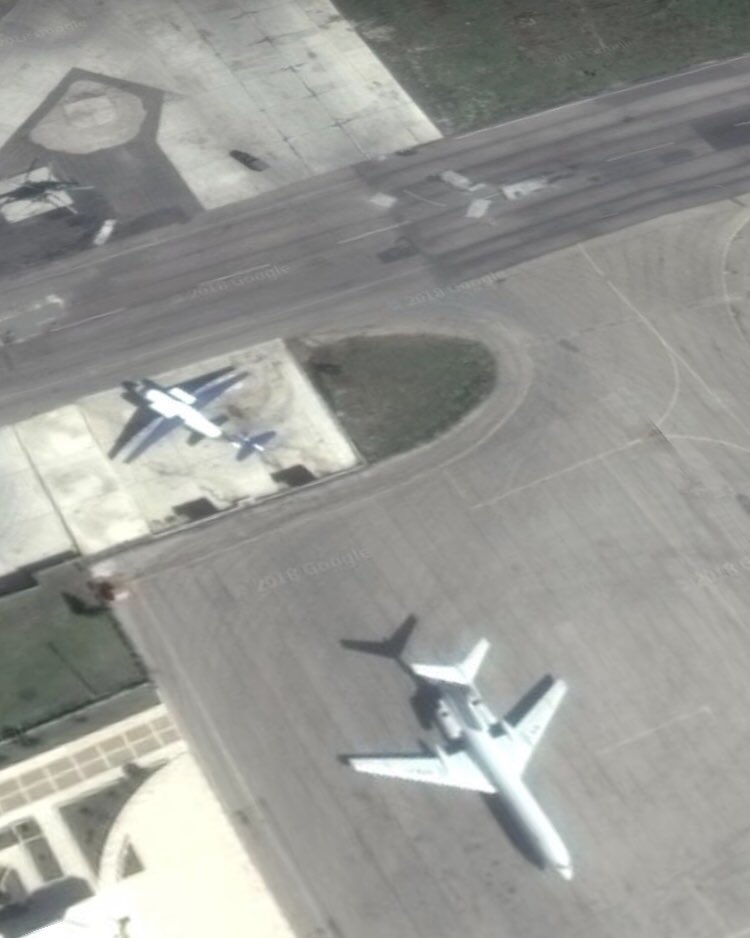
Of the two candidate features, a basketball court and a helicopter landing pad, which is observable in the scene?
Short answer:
helicopter landing pad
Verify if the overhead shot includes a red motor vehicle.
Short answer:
No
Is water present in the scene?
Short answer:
No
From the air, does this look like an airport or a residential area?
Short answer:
airport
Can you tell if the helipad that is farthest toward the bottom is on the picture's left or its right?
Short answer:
left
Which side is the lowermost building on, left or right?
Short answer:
left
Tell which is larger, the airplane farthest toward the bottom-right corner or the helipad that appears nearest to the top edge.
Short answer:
the airplane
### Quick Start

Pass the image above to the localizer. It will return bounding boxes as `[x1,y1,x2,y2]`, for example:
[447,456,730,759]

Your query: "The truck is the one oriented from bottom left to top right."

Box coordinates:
[90,215,115,243]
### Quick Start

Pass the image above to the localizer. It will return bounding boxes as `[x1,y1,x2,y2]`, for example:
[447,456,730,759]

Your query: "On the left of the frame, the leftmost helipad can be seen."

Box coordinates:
[0,167,73,222]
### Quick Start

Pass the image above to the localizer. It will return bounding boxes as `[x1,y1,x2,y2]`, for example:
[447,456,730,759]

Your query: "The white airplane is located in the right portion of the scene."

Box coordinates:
[355,640,575,878]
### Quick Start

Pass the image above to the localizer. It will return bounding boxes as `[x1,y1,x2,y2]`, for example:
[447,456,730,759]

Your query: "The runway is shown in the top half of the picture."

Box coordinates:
[0,54,750,430]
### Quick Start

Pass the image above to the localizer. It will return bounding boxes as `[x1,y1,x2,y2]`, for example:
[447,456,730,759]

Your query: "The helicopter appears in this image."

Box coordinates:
[0,154,92,215]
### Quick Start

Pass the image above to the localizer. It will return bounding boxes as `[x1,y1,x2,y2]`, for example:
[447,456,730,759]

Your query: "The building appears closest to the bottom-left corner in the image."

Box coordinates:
[16,895,117,938]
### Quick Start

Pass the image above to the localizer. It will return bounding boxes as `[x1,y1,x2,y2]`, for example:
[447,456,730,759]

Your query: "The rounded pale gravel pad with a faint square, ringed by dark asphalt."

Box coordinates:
[31,80,145,152]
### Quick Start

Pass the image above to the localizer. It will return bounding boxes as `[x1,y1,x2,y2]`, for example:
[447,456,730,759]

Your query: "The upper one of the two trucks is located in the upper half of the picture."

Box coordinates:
[234,146,270,169]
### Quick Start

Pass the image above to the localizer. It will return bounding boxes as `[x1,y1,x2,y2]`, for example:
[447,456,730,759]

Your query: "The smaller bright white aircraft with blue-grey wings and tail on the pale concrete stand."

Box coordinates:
[126,371,282,467]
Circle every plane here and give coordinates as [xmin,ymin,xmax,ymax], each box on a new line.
[355,640,575,878]
[126,371,282,467]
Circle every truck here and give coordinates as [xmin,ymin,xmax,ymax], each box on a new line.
[90,215,115,243]
[234,146,270,169]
